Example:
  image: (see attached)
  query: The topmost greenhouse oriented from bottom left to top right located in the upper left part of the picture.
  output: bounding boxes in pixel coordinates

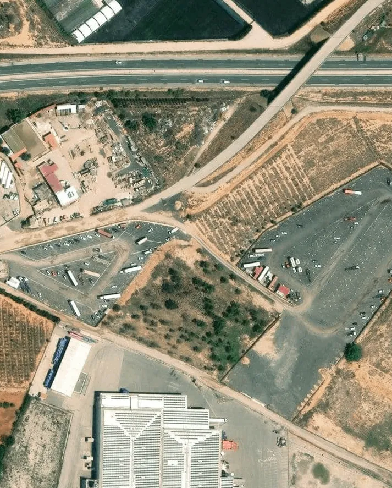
[71,0,122,43]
